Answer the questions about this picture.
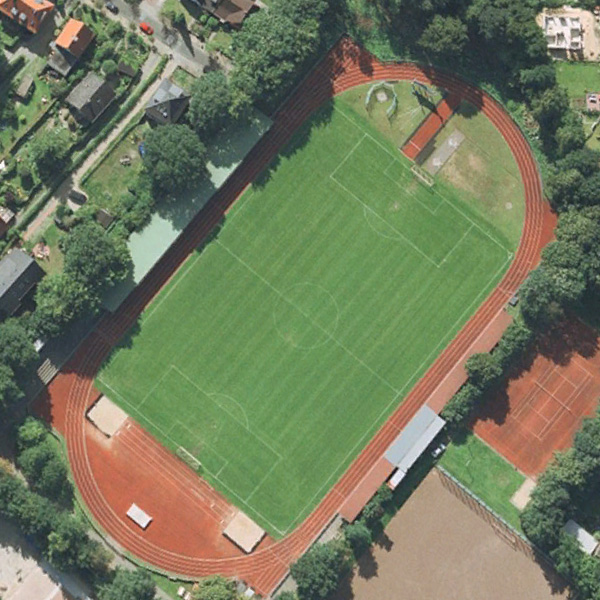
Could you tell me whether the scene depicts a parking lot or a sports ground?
sports ground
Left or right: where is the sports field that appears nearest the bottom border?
right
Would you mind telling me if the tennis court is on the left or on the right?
right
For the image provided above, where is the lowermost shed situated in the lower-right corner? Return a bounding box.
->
[561,520,600,555]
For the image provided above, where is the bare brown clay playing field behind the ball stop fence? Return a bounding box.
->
[339,468,597,600]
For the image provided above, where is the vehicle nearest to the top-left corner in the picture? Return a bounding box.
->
[105,1,120,15]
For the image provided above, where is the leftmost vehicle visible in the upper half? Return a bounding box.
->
[69,190,86,203]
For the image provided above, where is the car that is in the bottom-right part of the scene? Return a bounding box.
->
[431,445,446,458]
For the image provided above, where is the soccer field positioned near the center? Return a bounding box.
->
[93,96,518,539]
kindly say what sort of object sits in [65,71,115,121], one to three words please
house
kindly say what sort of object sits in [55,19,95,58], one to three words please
house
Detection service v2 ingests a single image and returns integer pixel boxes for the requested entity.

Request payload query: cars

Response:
[139,22,154,35]
[431,445,446,458]
[69,190,86,203]
[105,1,120,15]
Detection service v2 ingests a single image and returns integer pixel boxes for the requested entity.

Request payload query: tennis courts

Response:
[474,316,600,486]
